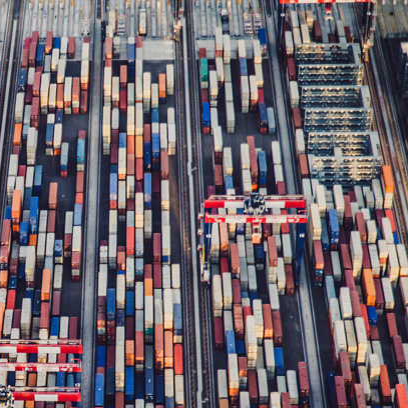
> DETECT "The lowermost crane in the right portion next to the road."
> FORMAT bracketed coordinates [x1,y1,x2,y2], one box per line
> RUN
[196,193,305,283]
